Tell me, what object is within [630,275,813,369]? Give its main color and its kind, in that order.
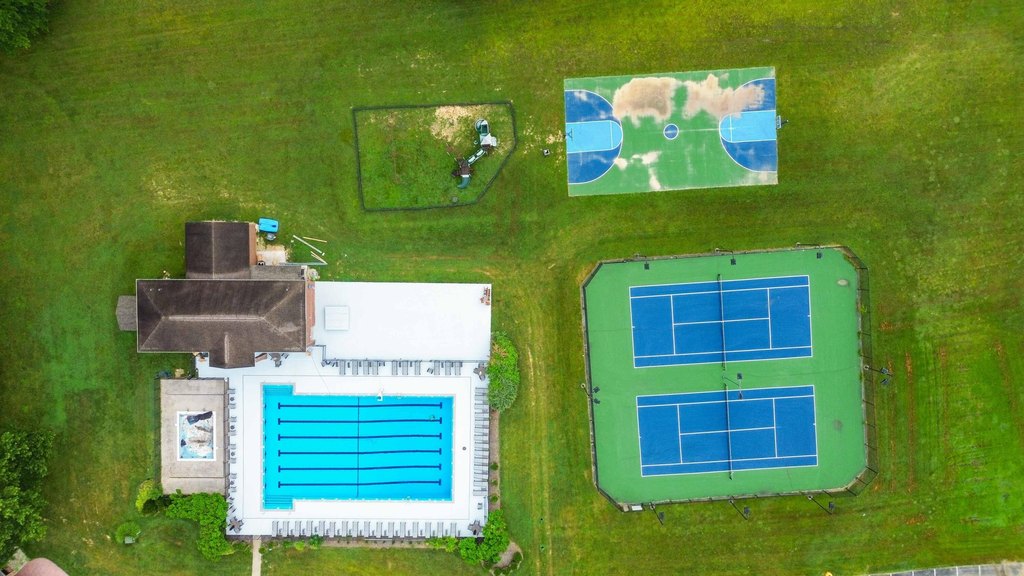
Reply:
blue tennis court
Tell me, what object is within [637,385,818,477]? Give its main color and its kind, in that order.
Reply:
blue tennis court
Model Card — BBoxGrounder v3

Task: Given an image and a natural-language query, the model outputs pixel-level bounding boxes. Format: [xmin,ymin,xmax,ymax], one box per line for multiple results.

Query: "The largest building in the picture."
[116,221,313,368]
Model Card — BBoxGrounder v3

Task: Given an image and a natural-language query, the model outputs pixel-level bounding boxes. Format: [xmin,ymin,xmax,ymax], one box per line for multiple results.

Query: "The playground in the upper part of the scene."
[450,116,497,191]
